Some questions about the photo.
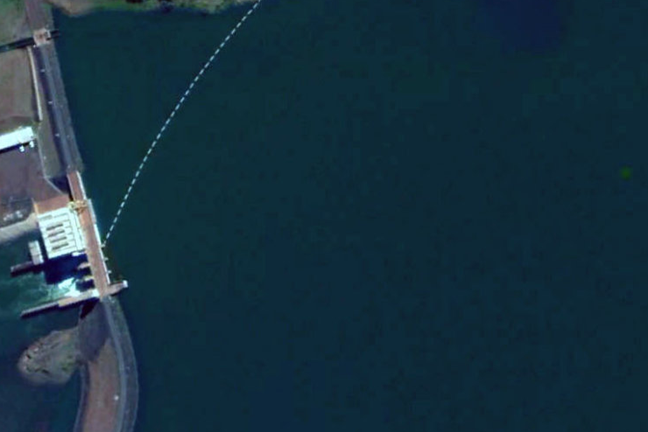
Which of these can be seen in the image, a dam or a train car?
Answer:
dam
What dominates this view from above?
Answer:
water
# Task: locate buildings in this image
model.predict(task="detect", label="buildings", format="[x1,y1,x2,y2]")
[32,196,89,257]
[0,126,38,150]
